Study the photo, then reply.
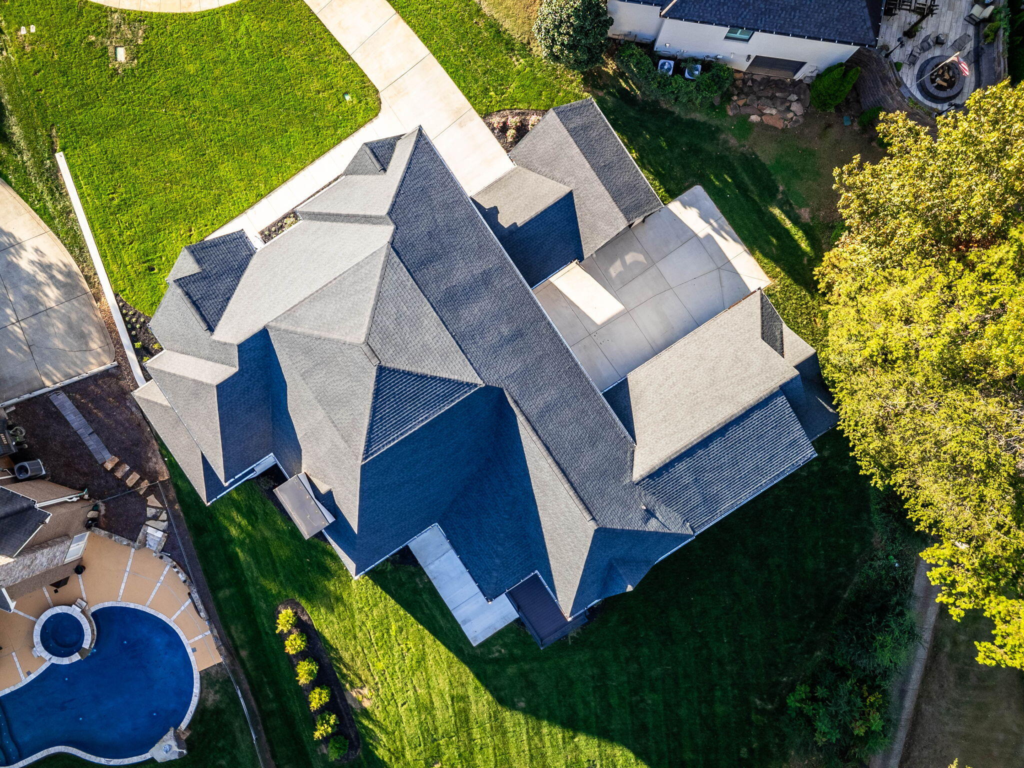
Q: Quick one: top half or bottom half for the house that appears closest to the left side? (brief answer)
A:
bottom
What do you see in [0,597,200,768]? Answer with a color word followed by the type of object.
blue swimming pool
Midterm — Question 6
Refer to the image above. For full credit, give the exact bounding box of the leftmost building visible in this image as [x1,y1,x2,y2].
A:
[0,457,91,613]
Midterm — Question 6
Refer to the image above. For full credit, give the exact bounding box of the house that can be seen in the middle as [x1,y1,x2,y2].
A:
[131,98,842,619]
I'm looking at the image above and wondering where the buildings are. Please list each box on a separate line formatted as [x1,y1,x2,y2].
[131,98,842,619]
[0,457,91,613]
[608,0,888,75]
